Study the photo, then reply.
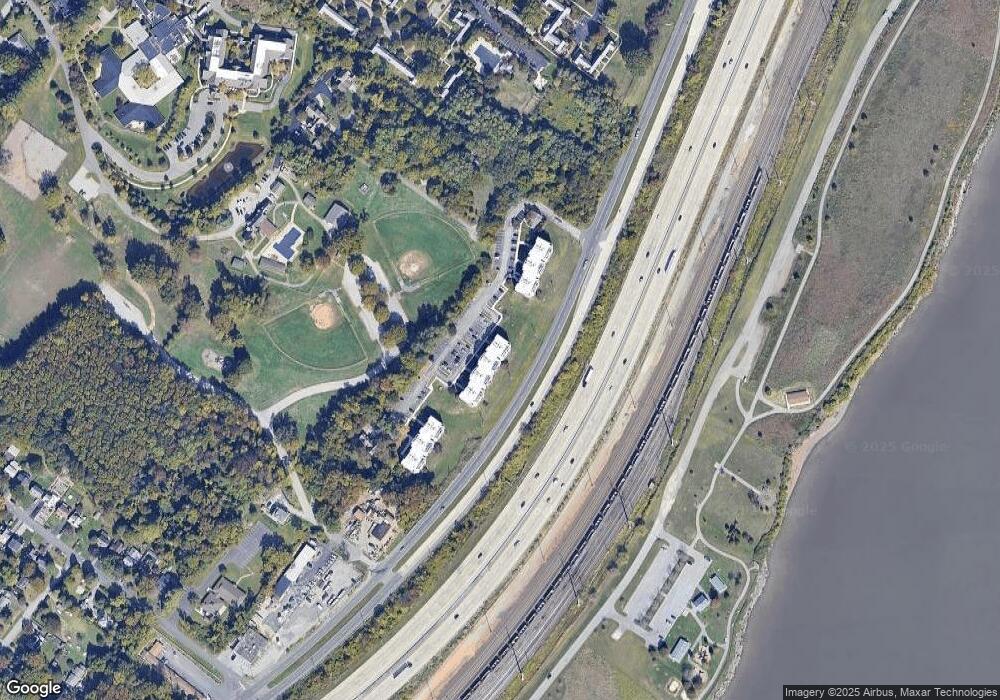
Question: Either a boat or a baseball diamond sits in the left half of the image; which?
baseball diamond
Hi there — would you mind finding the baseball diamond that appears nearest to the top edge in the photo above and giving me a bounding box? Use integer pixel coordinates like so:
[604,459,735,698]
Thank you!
[373,210,475,292]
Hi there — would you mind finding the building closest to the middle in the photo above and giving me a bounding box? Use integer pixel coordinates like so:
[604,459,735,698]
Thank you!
[460,336,511,407]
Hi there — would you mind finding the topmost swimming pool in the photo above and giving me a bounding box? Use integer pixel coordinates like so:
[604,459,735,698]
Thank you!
[466,36,513,78]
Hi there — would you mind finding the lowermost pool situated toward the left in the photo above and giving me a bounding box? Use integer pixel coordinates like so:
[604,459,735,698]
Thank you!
[254,223,305,263]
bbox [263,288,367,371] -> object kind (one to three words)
baseball field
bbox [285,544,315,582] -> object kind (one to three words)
building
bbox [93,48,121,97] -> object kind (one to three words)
building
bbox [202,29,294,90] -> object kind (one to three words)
house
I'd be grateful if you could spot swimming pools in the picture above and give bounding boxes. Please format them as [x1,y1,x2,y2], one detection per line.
[466,36,513,78]
[254,223,305,263]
